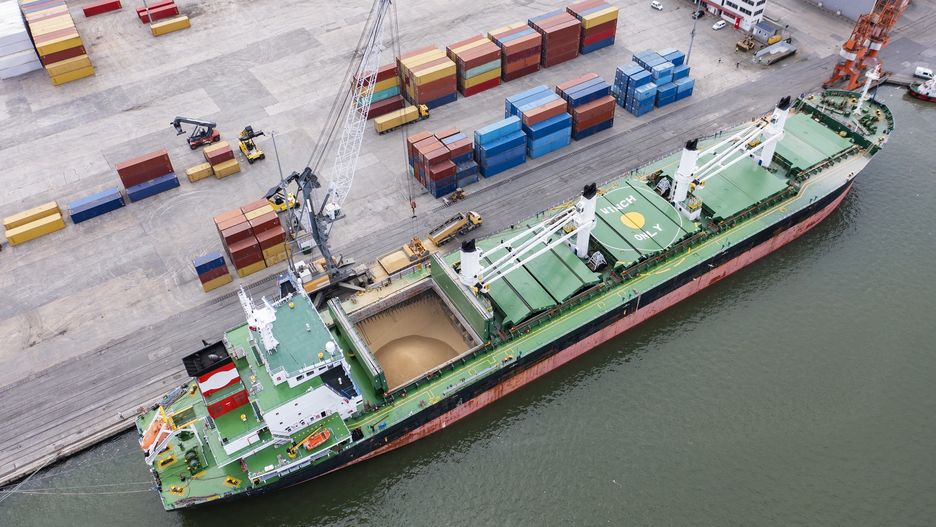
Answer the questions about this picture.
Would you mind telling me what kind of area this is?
port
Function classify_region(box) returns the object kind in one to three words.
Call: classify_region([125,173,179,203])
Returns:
shipping container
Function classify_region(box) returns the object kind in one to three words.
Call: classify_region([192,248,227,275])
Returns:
shipping container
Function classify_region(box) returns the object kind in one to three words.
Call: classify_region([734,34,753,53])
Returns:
work vehicle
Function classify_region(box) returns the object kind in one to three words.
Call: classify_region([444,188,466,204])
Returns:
work vehicle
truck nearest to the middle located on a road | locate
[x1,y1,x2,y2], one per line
[428,212,480,246]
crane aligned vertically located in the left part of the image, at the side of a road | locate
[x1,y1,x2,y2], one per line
[287,0,412,315]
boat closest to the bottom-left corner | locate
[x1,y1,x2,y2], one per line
[134,414,165,444]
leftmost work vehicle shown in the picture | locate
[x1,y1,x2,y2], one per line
[170,122,223,149]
